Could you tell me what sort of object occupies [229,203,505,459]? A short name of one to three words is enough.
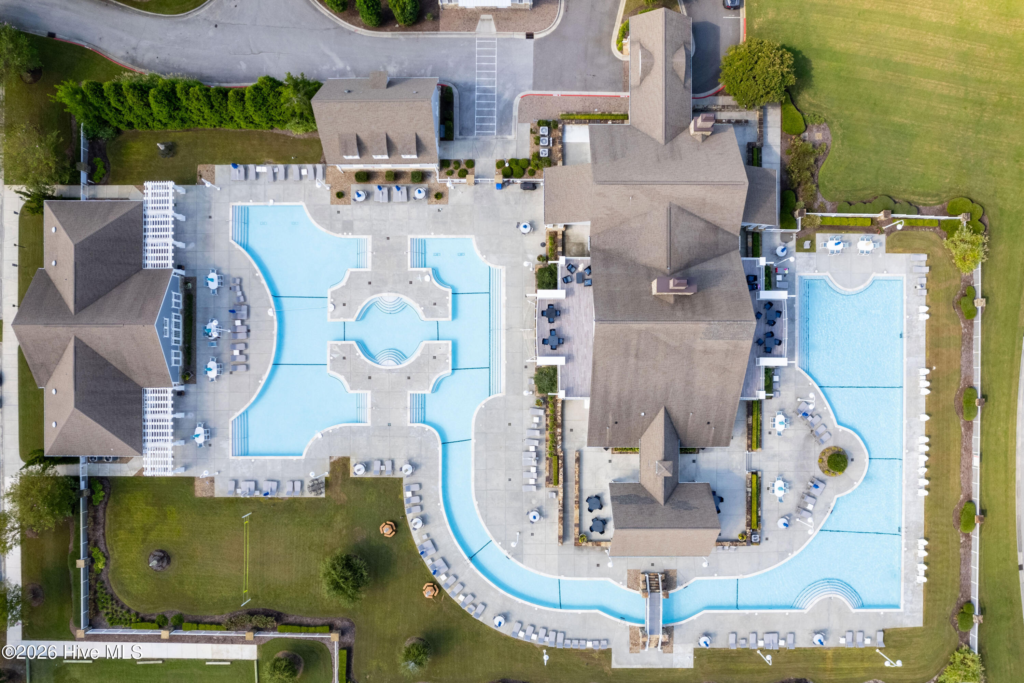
swimming pool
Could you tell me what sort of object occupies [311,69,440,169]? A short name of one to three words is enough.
building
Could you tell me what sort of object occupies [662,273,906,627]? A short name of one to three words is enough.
swimming pool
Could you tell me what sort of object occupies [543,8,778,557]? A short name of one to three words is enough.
building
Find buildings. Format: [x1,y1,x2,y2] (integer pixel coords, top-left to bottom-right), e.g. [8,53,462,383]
[543,8,778,557]
[311,69,440,169]
[13,200,186,457]
[436,0,535,18]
